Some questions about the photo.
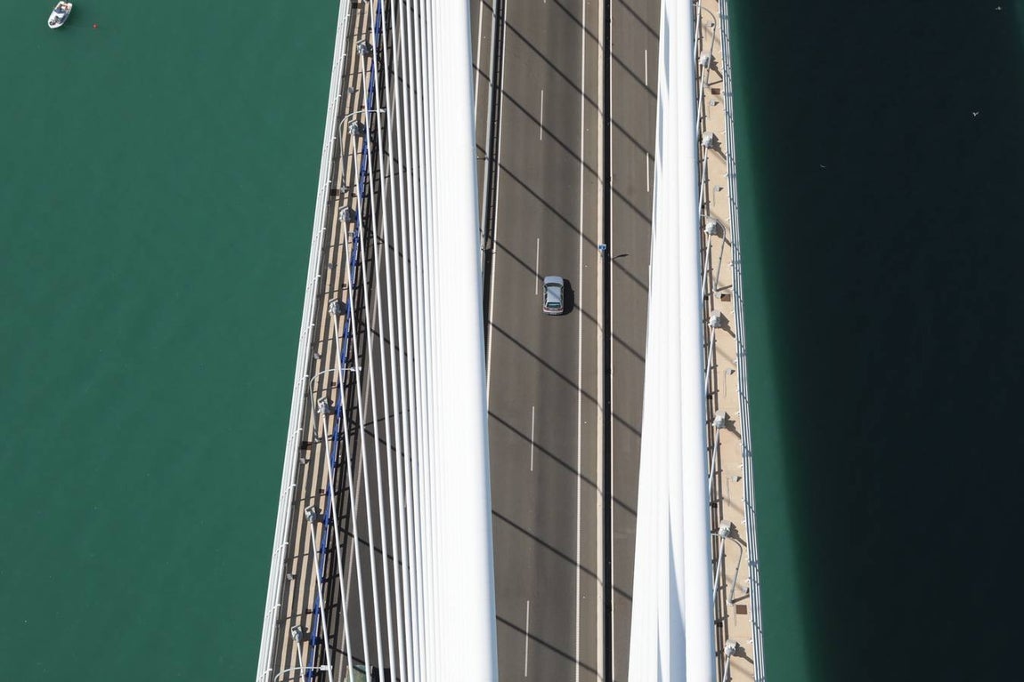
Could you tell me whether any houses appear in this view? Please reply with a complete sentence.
No, the scene contains no house.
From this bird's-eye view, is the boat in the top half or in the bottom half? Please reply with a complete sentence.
The boat sits in the top half of the picture.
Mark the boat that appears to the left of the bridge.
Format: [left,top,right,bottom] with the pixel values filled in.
[49,0,72,30]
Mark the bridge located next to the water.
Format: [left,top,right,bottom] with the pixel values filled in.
[263,0,764,682]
